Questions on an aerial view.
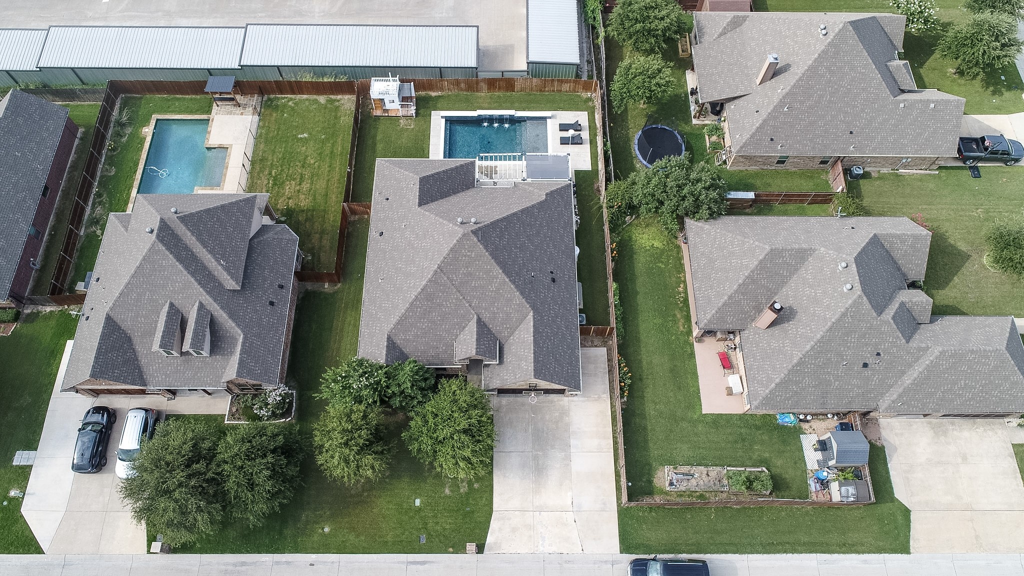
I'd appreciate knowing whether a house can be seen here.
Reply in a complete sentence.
Yes, the image includes a house.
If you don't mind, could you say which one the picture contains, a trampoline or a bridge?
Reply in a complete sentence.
This aerial view contains a trampoline.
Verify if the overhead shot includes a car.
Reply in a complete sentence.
Yes, a car can be made out from above.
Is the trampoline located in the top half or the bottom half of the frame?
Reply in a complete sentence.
The top half of the photo is where the trampoline is.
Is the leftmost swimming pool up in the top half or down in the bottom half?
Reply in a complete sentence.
Seen from above, the leftmost swimming pool lies in the top half of the view.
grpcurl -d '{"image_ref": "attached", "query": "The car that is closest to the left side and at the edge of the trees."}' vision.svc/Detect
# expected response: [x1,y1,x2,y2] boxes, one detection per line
[70,405,118,473]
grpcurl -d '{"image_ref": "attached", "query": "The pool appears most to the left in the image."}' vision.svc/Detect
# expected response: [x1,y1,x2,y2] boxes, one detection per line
[129,114,233,211]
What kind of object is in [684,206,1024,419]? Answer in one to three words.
house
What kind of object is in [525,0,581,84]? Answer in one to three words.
shed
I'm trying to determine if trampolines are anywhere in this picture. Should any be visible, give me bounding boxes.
[633,115,690,165]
